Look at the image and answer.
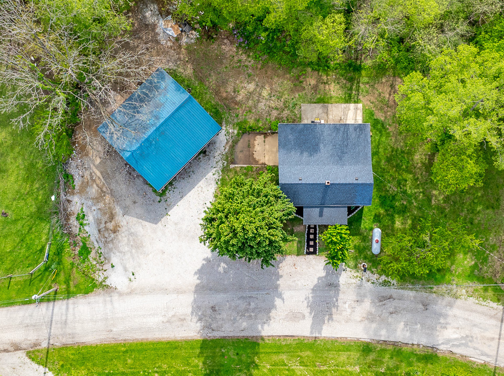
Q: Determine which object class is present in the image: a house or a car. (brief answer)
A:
house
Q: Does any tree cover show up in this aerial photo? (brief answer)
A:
Yes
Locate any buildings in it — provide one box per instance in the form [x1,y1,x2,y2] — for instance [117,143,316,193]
[99,68,222,192]
[278,123,376,225]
